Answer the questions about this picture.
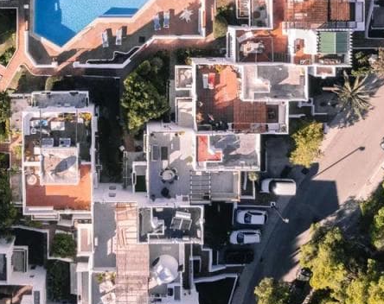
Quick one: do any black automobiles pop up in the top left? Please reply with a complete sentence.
No, I see no black automobile in the top left.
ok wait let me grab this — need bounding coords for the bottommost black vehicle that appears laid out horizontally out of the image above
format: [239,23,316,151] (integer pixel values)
[221,247,256,264]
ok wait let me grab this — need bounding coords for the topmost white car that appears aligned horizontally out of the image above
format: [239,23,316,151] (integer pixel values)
[259,178,298,197]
